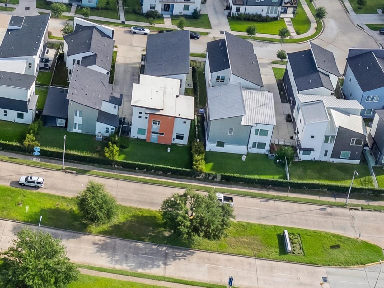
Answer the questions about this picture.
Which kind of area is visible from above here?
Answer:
residential area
